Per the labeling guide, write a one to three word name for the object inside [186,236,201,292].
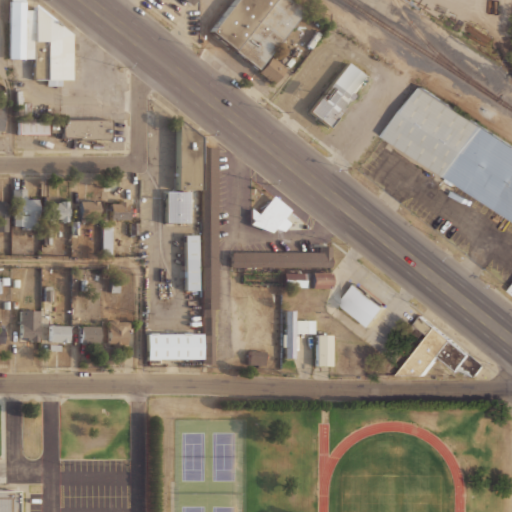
building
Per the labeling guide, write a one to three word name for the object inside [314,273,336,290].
barn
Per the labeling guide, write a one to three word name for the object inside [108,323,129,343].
house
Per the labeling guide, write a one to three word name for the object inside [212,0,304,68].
building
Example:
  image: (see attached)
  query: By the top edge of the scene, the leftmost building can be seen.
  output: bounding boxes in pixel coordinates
[10,0,74,86]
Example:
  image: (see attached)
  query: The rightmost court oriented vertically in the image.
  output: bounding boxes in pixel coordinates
[209,420,244,492]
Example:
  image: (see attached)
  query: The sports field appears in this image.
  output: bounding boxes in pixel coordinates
[330,432,454,512]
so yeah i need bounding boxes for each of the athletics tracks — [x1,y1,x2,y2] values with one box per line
[318,420,466,512]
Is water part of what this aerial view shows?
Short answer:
No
